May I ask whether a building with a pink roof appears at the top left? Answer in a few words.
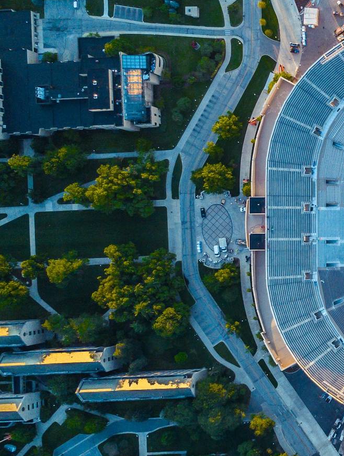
No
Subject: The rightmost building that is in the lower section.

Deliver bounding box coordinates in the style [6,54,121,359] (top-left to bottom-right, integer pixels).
[75,372,205,404]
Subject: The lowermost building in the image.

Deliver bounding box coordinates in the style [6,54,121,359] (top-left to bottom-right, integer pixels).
[0,392,40,424]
